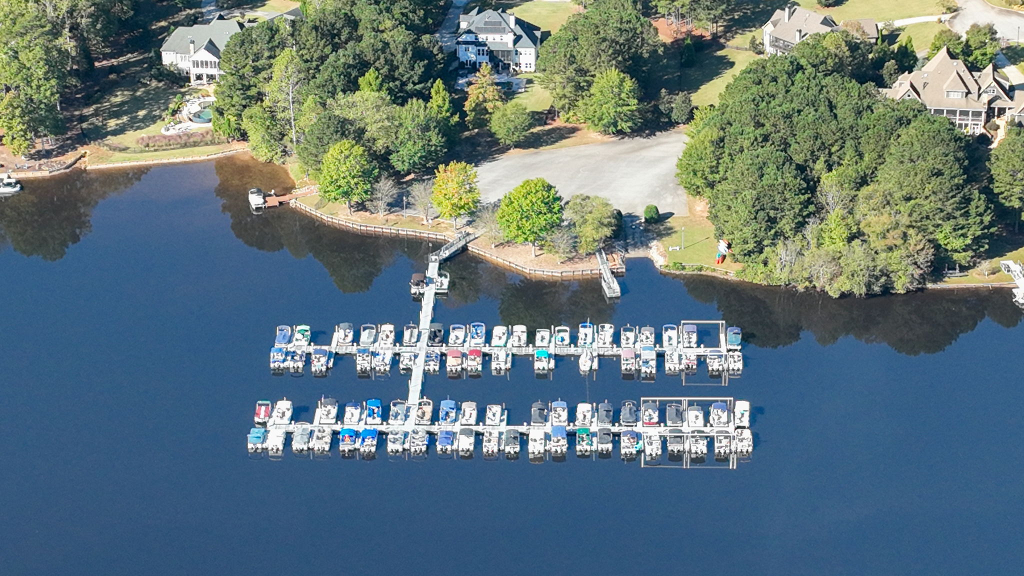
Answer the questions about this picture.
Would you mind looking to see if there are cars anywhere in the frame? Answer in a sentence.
No, the picture doesn't show any car.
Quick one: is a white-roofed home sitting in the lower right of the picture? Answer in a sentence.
No, I can find no white-roofed home in the lower right of the picture.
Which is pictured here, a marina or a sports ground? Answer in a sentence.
This looks like a marina.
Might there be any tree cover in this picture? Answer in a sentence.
Yes, there is tree cover in the image.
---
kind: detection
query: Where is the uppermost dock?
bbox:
[265,184,322,209]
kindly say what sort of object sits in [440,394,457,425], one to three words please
boat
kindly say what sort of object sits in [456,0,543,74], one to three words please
house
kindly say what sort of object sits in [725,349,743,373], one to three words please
boat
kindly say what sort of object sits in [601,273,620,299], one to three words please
pier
